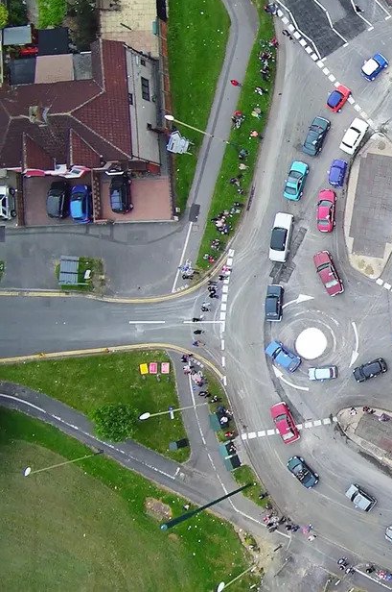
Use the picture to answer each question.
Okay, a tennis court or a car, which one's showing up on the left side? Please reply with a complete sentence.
It is a car that can be seen on the left side.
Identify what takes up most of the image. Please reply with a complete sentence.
The bulk of the photo consists of paved ground.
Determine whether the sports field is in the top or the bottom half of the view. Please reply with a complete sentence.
The bottom half of the photo is where the sports field is.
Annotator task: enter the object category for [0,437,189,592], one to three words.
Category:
sports field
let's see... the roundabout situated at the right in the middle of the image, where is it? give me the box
[293,325,327,361]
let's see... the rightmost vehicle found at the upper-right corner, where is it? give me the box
[360,53,390,82]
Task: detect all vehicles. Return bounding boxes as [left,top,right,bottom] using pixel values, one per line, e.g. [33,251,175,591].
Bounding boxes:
[108,178,133,215]
[265,285,284,322]
[68,186,89,223]
[0,184,12,222]
[325,84,352,113]
[345,484,378,513]
[287,453,320,491]
[310,250,345,299]
[300,116,331,157]
[270,400,301,447]
[354,357,390,383]
[266,213,296,264]
[328,159,349,189]
[283,161,308,202]
[360,53,390,82]
[309,365,339,382]
[46,183,71,219]
[266,341,302,375]
[338,116,370,156]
